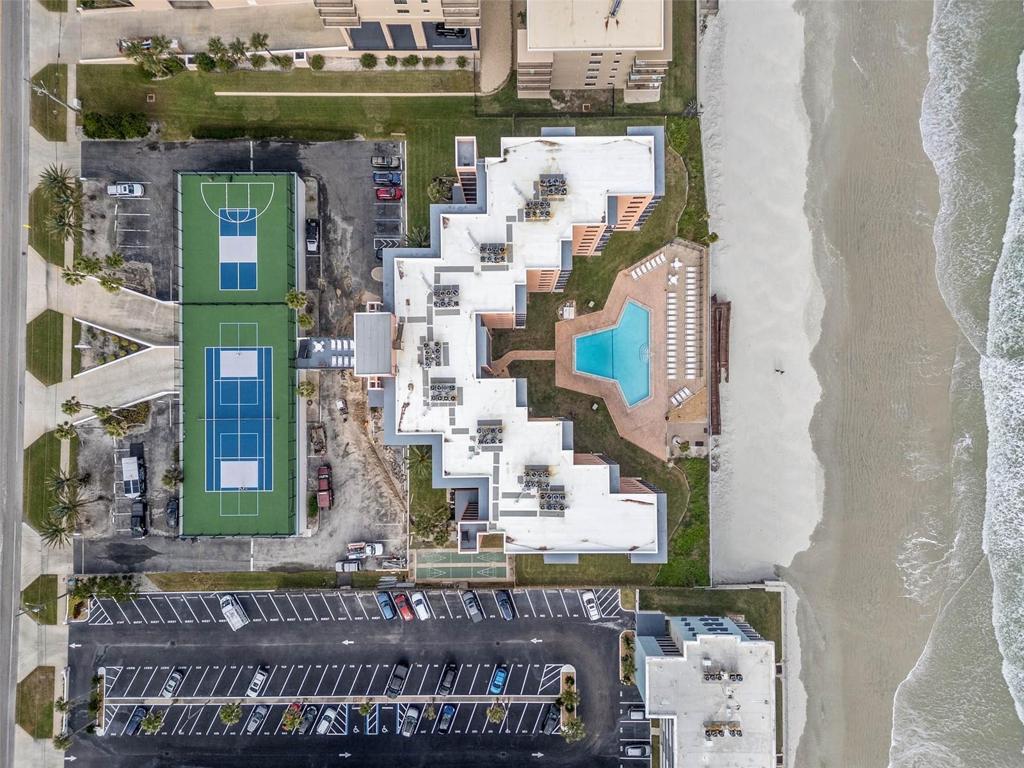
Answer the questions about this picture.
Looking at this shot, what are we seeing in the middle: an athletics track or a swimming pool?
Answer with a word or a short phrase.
swimming pool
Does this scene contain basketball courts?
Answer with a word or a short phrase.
Yes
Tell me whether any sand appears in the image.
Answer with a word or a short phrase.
Yes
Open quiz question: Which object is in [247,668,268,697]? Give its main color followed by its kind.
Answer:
white car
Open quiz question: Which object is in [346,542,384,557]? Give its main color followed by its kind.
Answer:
white vehicle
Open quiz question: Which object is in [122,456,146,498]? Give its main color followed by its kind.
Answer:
white trailer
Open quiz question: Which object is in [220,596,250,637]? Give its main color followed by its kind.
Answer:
white truck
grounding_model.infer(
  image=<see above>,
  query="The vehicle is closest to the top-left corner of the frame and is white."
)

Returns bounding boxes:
[104,182,145,198]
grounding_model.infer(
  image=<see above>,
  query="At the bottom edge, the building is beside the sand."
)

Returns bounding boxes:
[633,608,775,768]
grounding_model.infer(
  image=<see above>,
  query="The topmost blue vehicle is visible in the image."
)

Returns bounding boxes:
[374,171,402,185]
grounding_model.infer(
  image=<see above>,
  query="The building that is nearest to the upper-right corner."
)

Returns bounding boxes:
[517,0,672,98]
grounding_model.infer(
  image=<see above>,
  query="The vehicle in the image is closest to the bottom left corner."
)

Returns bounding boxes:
[124,703,148,738]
